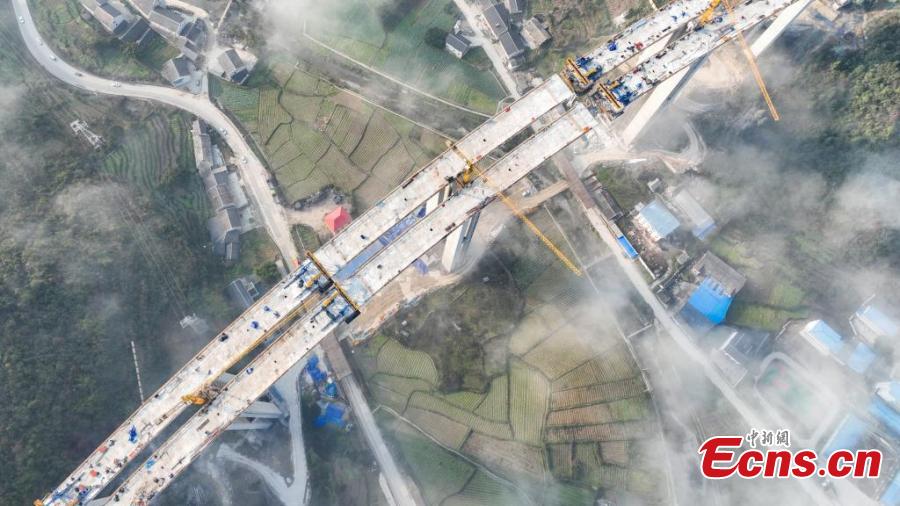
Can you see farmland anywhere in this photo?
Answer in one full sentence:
Yes, there's farmland in this view.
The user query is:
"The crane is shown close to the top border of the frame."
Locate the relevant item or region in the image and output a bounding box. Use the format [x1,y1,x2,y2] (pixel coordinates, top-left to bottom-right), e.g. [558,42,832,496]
[691,0,780,121]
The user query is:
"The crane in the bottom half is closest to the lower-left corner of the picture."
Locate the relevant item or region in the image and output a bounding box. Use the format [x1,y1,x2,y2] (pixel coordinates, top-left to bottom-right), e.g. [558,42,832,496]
[182,289,323,412]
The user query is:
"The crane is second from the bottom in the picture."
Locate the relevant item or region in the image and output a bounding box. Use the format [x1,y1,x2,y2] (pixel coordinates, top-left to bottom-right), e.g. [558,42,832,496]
[446,141,583,274]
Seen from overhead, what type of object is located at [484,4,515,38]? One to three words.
house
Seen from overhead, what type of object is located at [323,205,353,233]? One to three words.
shed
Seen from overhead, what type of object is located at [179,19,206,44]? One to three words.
house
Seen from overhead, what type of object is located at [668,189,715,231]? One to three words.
building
